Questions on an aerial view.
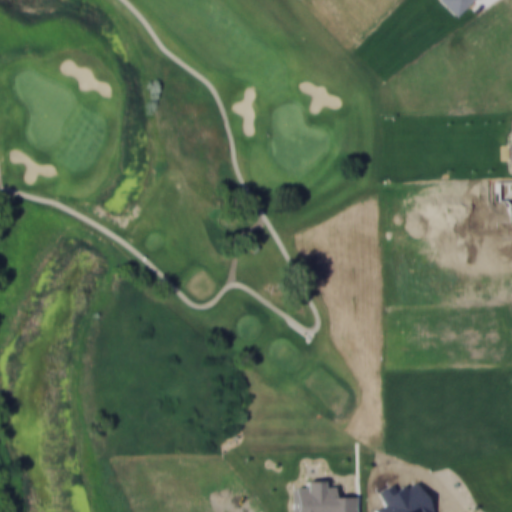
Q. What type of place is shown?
golf course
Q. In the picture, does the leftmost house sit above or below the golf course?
below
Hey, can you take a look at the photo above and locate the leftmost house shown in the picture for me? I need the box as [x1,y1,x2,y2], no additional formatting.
[294,482,359,512]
